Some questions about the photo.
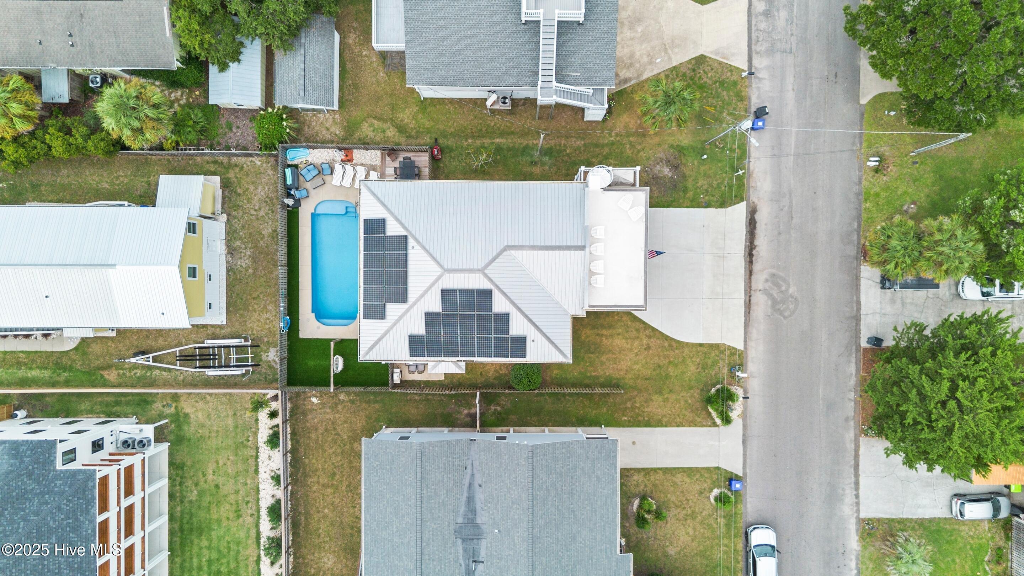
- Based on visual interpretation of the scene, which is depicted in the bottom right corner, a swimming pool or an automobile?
automobile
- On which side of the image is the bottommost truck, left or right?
right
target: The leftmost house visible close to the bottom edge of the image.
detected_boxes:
[0,414,174,576]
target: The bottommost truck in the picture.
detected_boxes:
[745,524,781,576]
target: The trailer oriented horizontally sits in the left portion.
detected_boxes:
[114,335,258,380]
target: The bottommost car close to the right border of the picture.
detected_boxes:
[948,492,1008,523]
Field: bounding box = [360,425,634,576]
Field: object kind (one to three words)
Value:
house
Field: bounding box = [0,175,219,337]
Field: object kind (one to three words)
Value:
house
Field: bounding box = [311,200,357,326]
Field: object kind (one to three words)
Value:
swimming pool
